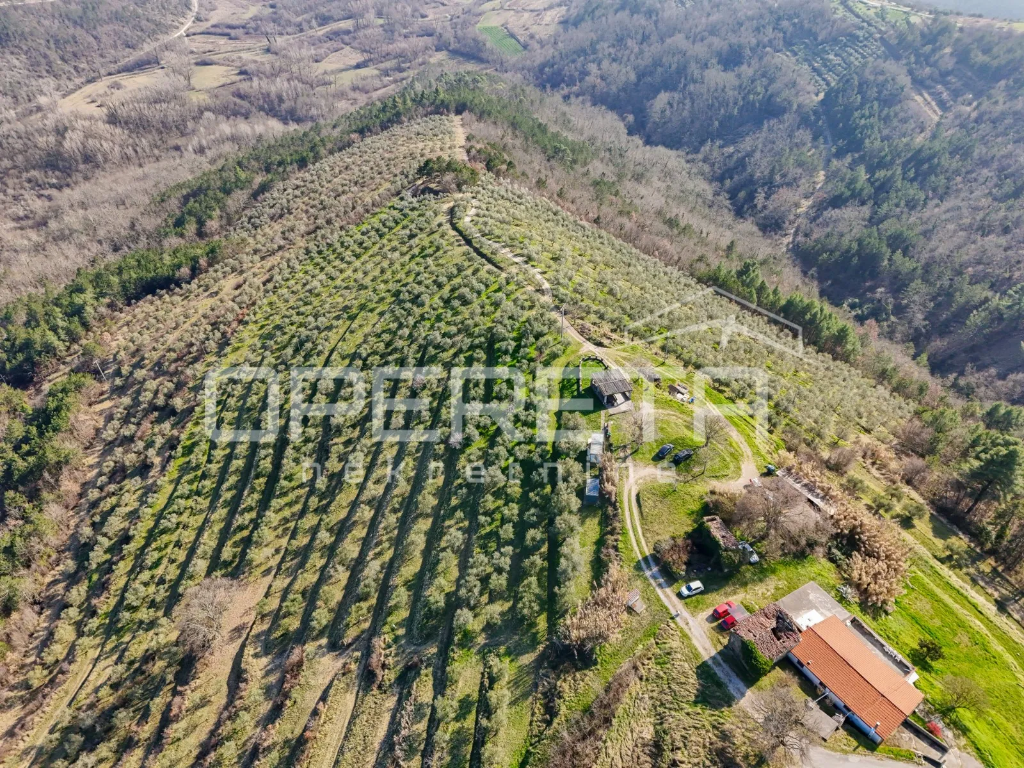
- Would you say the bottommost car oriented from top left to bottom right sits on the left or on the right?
right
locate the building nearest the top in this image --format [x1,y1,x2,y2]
[587,367,633,411]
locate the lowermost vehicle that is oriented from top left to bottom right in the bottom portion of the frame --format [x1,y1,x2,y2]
[739,542,762,564]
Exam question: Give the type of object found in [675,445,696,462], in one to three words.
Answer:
car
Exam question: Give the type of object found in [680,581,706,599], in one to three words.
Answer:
car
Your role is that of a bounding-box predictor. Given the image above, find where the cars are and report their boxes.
[713,600,736,620]
[722,616,744,632]
[680,581,706,599]
[675,445,696,462]
[656,442,676,458]
[739,542,762,564]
